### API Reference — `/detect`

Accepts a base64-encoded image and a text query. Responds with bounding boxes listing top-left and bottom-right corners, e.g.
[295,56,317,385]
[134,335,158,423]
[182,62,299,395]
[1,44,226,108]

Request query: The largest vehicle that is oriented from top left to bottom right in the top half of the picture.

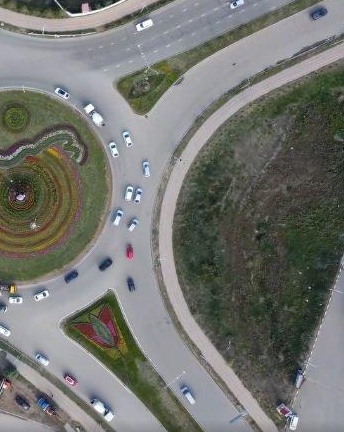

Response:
[82,101,105,125]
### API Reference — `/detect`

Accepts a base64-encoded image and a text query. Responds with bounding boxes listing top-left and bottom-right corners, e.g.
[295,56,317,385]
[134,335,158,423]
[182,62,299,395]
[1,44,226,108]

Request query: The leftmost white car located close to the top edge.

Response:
[135,18,153,31]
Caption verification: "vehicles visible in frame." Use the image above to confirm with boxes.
[180,386,195,404]
[134,188,141,203]
[14,396,30,409]
[135,18,153,31]
[63,372,78,386]
[125,186,133,201]
[228,0,245,9]
[0,324,11,336]
[128,217,138,232]
[98,256,113,271]
[36,396,58,420]
[54,87,70,99]
[34,352,50,366]
[8,296,22,302]
[112,210,123,226]
[288,413,298,431]
[126,243,133,259]
[126,276,136,291]
[82,101,105,125]
[141,161,150,176]
[310,7,327,19]
[122,131,133,147]
[108,141,119,157]
[294,371,304,389]
[34,289,50,300]
[63,269,79,283]
[90,398,116,423]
